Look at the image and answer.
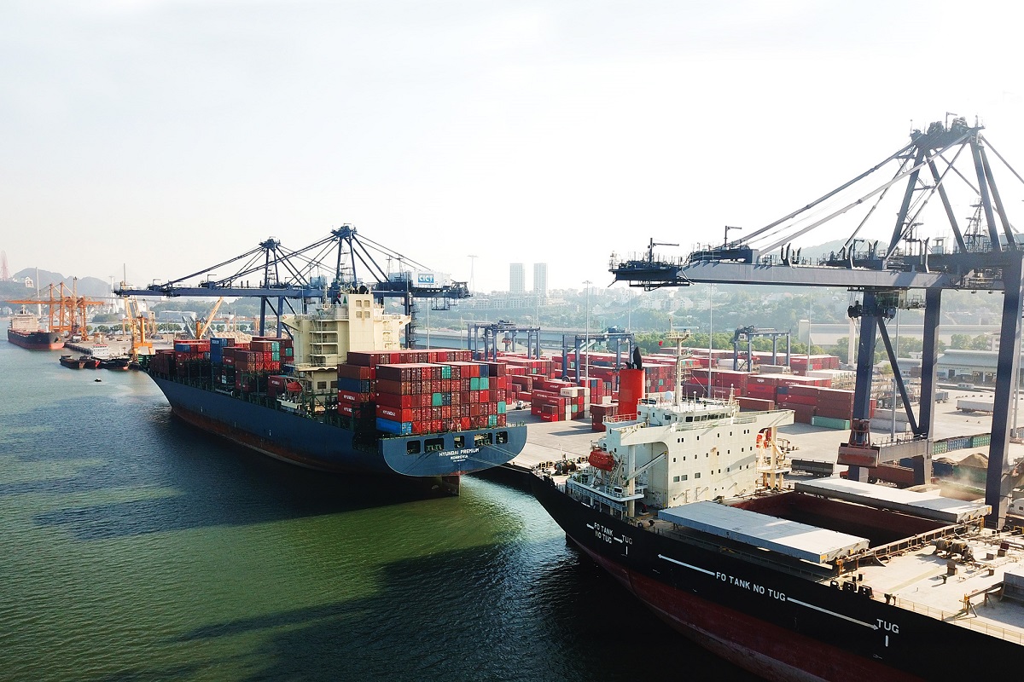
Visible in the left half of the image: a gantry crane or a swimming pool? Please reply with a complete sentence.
Visible in the left half of the image is a gantry crane.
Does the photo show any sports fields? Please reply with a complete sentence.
No, there appears to be no sports field in this shot.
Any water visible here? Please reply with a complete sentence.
Yes, there is water in the image.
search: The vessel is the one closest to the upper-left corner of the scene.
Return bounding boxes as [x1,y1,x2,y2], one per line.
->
[0,297,68,350]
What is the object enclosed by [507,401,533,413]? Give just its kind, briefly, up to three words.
vehicle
